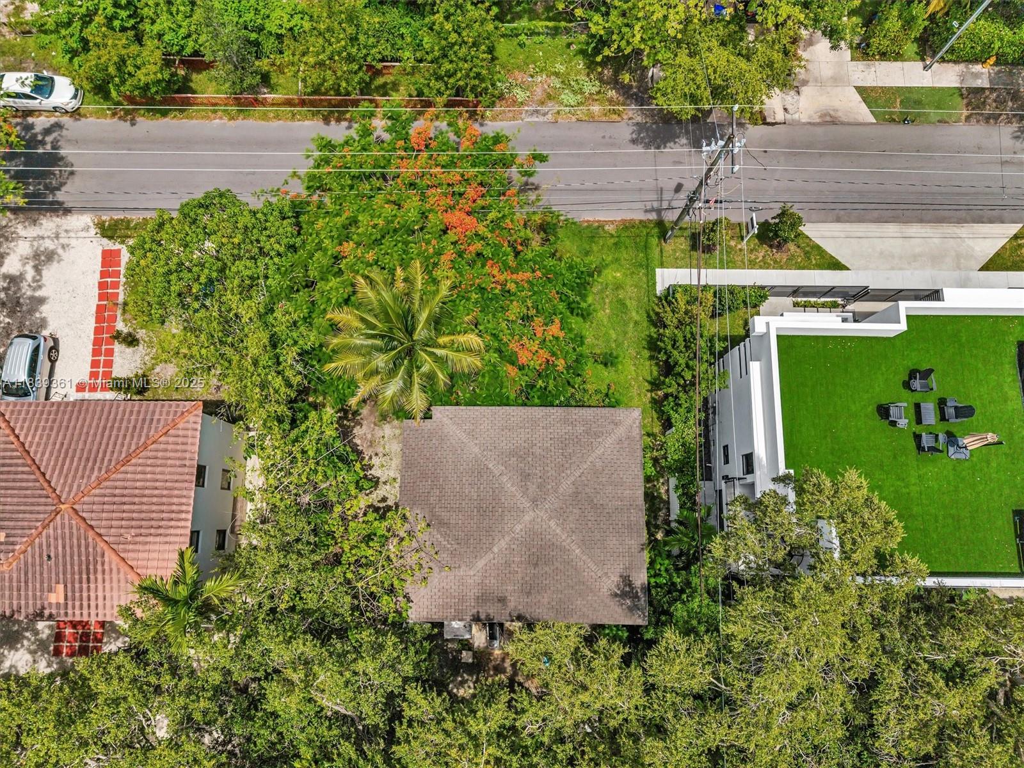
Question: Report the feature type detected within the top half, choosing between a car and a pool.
car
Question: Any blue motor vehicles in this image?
No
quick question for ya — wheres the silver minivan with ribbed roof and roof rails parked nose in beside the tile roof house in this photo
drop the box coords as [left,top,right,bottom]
[0,335,60,399]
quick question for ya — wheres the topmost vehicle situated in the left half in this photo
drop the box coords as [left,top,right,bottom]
[0,67,88,115]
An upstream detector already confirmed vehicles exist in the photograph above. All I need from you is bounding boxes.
[0,67,88,115]
[0,335,60,399]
